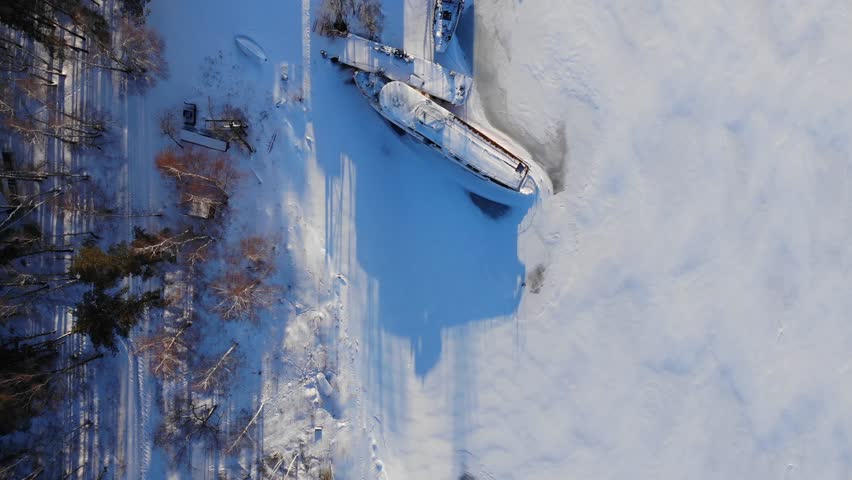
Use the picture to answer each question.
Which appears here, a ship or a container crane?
ship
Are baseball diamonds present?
No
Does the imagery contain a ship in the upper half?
Yes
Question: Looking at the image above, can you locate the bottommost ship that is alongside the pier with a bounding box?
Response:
[355,73,535,197]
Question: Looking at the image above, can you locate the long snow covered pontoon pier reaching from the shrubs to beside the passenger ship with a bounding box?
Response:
[337,34,471,106]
